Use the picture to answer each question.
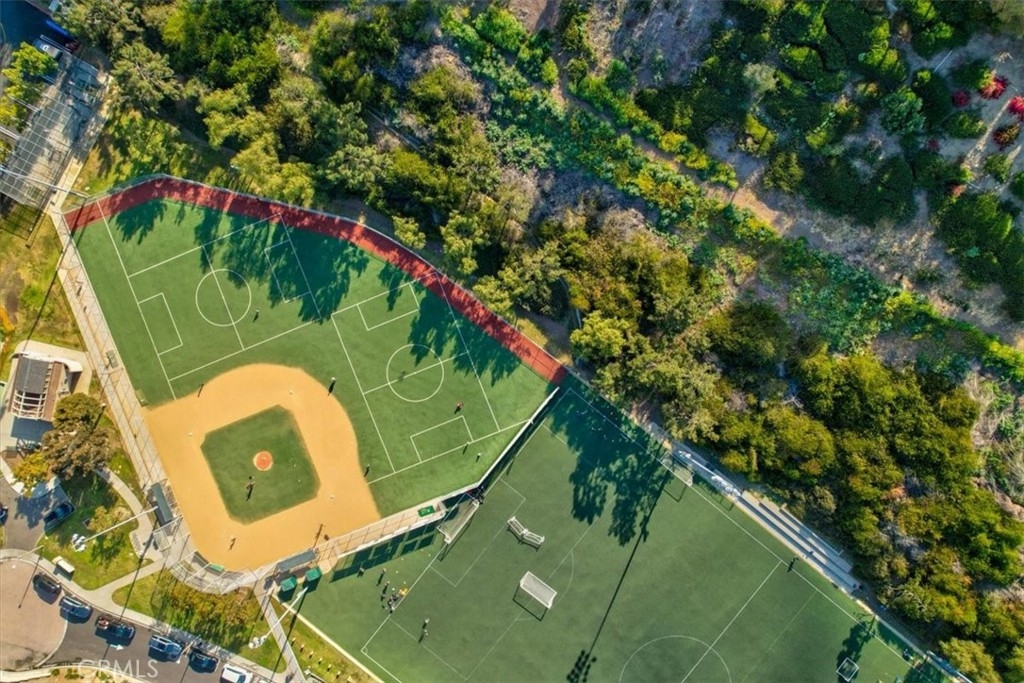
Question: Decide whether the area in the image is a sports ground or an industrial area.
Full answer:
This looks like a sports ground.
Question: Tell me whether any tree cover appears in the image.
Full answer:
Yes, some tree cover is visible.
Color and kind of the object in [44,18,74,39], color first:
blue car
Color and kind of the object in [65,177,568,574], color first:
green baseball field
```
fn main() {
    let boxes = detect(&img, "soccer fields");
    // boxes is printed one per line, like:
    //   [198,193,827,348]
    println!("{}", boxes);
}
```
[129,214,321,381]
[275,374,954,683]
[331,272,499,472]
